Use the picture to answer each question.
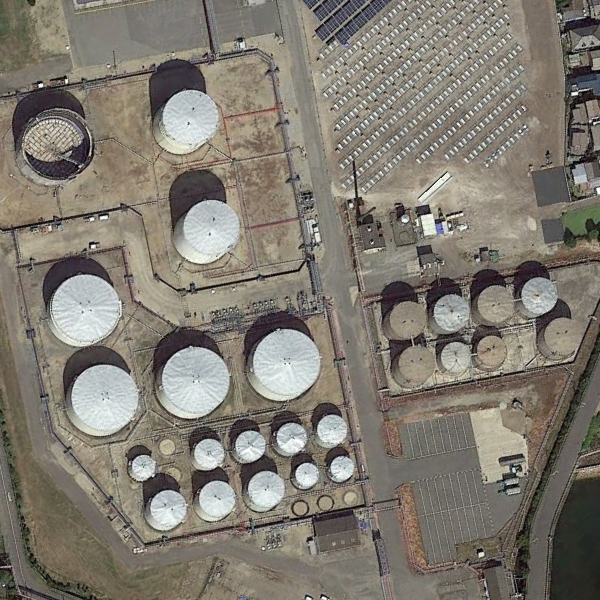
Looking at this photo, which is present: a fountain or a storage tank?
storage tank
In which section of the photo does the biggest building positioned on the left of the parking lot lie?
bottom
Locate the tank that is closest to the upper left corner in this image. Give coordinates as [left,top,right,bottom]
[13,106,95,188]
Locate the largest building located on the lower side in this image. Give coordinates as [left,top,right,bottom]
[314,514,361,555]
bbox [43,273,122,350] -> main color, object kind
white storage tank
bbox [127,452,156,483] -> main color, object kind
white storage tank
